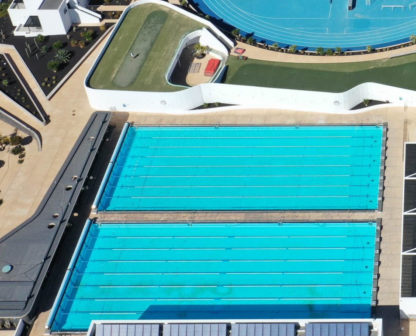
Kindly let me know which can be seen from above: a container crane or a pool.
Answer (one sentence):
Of the two, only a pool appears.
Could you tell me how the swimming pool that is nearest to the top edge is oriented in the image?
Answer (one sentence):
The swimming pool that is nearest to the top edge is oriented horizontally.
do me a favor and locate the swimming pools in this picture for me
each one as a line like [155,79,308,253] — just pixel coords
[40,216,382,334]
[88,119,389,214]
